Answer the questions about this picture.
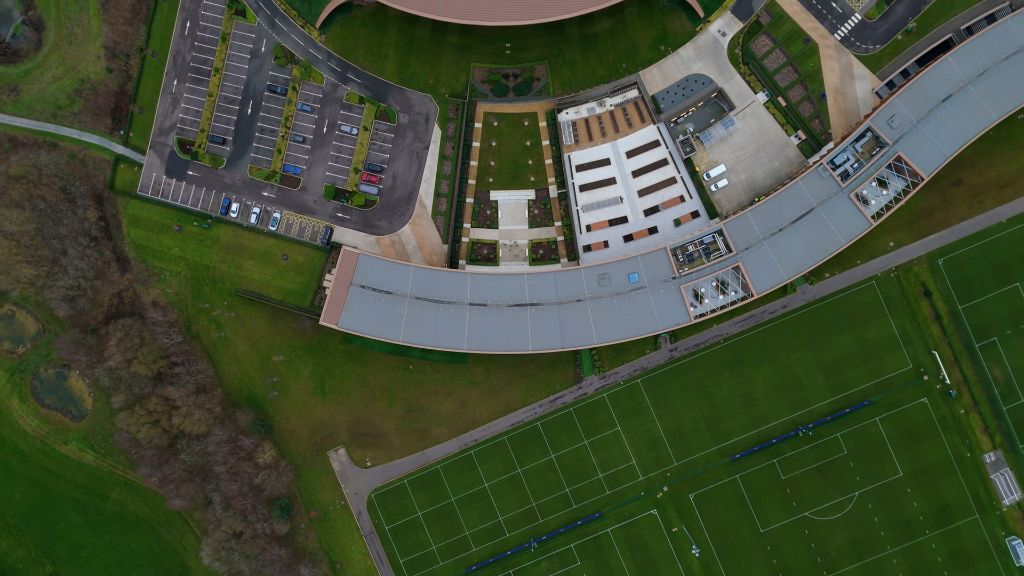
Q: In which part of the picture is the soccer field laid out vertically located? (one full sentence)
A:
You can find the soccer field laid out vertically in the right area of the picture.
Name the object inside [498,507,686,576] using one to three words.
soccer field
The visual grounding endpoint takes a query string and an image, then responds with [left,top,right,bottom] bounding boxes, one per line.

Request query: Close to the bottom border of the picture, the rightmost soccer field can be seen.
[687,394,1004,576]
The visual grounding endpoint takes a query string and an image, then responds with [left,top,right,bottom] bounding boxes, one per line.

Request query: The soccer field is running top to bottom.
[935,222,1024,454]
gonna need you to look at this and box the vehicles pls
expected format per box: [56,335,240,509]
[290,134,307,144]
[221,198,231,215]
[365,162,383,172]
[360,184,379,194]
[704,164,728,181]
[231,202,241,218]
[268,84,287,95]
[710,178,730,192]
[340,125,359,135]
[270,212,281,230]
[283,165,300,174]
[362,173,380,184]
[208,134,227,145]
[250,207,261,225]
[297,103,314,113]
[322,225,333,245]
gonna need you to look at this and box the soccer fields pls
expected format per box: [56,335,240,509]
[369,277,916,576]
[935,222,1024,454]
[687,394,1004,576]
[498,507,686,576]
